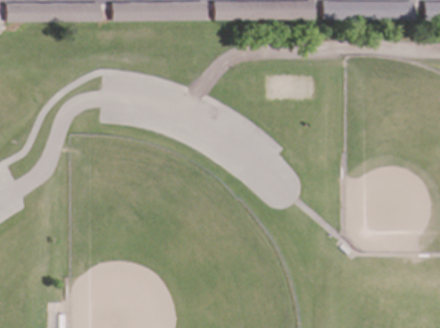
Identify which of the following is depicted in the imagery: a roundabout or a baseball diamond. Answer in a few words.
baseball diamond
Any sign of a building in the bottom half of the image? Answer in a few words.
No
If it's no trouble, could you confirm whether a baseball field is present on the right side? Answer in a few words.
Yes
